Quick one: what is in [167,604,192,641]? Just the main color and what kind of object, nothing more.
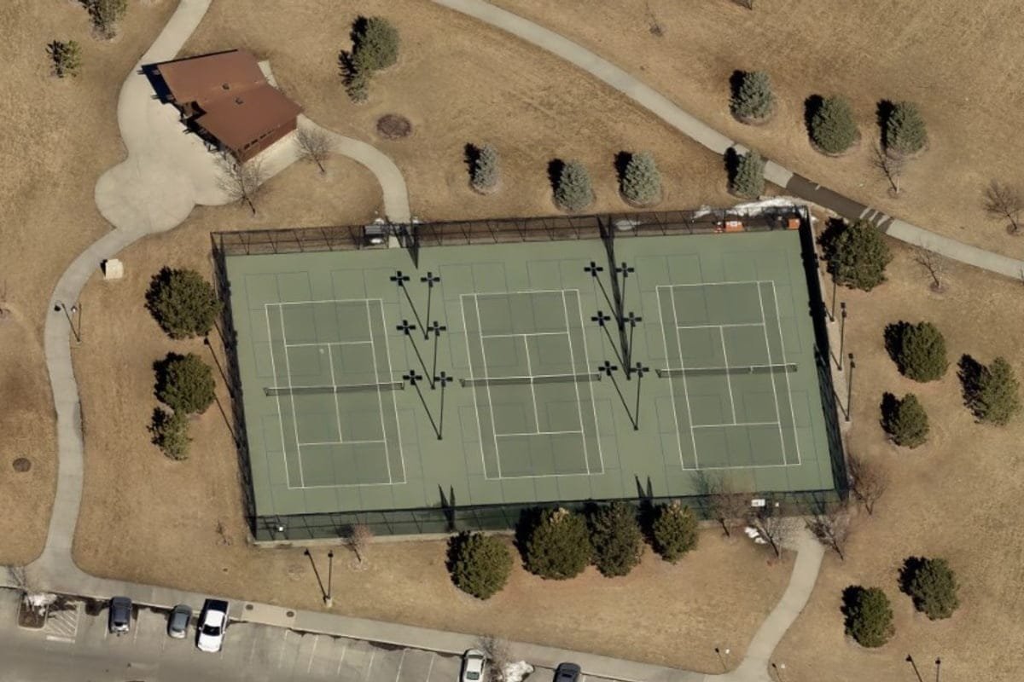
gray car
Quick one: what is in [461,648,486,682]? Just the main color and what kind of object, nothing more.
white car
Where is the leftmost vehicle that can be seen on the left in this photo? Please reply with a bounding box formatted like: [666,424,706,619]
[106,594,133,635]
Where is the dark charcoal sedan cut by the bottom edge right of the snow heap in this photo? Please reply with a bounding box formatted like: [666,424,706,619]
[557,662,580,682]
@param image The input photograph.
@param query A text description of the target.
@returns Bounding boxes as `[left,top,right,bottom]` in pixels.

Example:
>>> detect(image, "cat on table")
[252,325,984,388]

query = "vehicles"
[167,604,192,641]
[461,648,486,682]
[106,594,133,635]
[198,599,229,655]
[557,662,580,682]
